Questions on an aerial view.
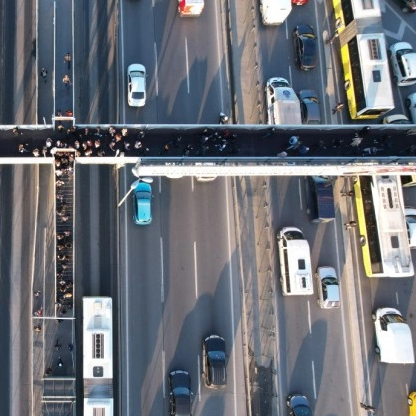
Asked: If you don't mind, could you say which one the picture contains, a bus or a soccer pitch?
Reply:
bus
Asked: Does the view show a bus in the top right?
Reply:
Yes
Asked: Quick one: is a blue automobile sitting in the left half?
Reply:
Yes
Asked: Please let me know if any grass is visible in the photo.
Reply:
No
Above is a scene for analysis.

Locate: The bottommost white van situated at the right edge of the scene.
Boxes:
[373,306,415,366]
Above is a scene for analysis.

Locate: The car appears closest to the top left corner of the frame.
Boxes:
[125,64,149,107]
